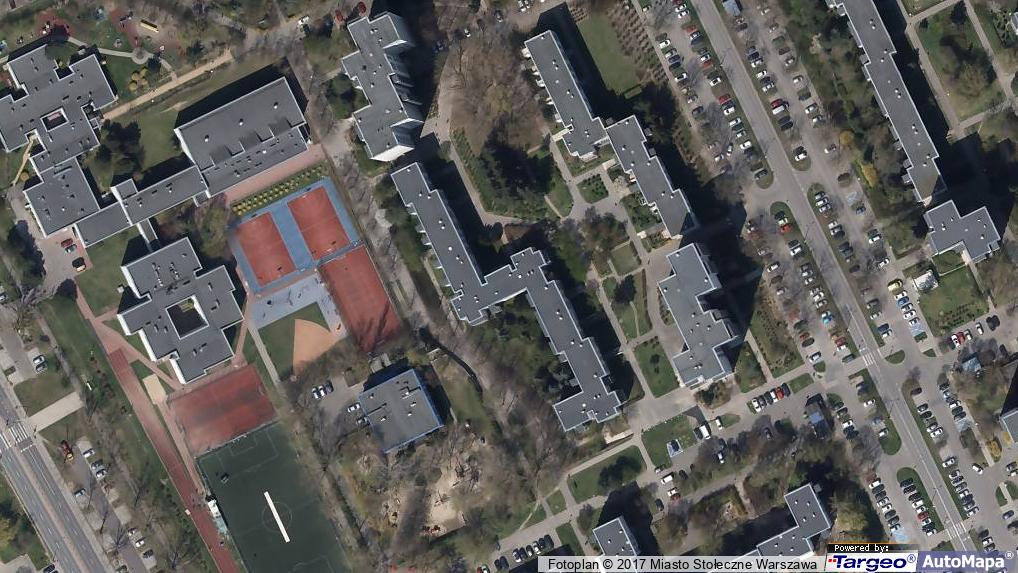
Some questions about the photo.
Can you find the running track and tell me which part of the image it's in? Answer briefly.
bottom left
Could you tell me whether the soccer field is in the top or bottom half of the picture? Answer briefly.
bottom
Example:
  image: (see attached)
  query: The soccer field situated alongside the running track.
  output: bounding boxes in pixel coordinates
[197,421,355,573]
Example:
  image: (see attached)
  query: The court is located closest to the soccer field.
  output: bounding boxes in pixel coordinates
[168,364,276,455]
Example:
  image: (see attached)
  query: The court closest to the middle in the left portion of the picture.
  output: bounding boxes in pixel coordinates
[318,245,405,352]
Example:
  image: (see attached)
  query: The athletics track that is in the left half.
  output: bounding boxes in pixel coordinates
[108,349,236,573]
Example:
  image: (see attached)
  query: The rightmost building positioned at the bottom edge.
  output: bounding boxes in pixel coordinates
[758,484,832,573]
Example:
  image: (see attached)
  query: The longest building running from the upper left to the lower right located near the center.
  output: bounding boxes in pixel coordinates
[392,162,624,435]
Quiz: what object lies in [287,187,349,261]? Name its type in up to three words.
basketball court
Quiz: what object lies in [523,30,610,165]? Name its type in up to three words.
building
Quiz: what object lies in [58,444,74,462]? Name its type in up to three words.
vehicle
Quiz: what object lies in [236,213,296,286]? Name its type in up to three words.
basketball court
